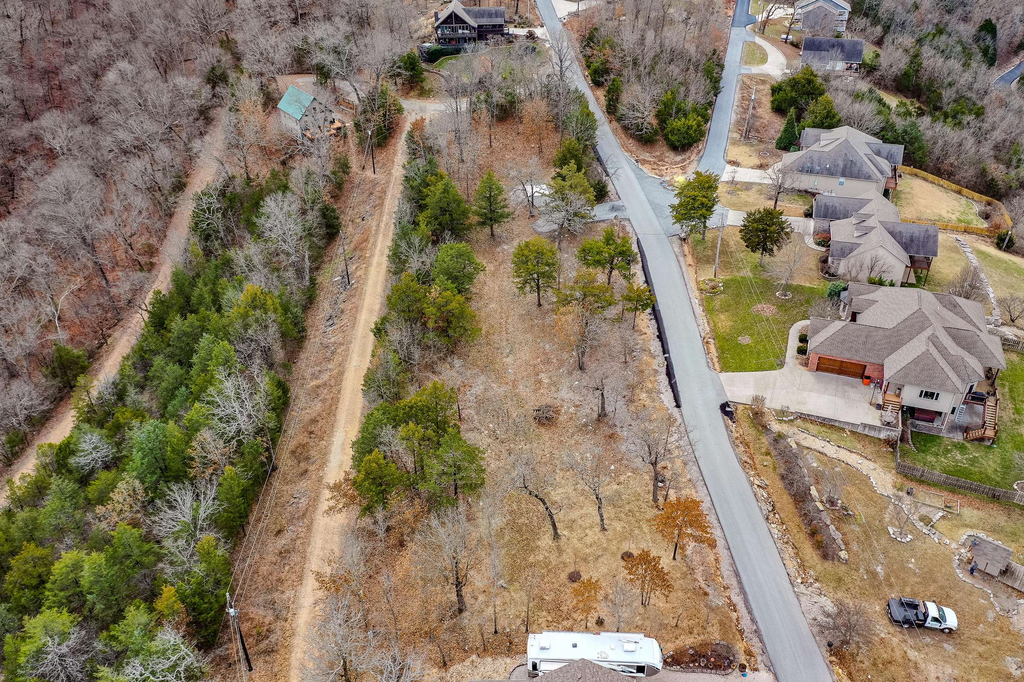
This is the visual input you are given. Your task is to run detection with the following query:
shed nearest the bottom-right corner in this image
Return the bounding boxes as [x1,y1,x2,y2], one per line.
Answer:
[967,535,1013,577]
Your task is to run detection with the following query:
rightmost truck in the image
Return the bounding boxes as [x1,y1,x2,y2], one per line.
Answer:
[884,597,959,634]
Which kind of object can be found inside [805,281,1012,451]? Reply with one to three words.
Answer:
house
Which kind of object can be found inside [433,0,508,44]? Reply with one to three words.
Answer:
house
